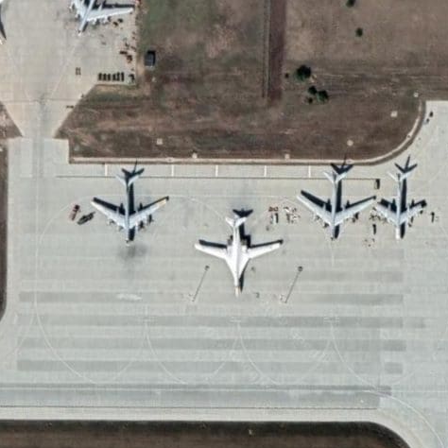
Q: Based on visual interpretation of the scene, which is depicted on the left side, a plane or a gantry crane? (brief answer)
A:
plane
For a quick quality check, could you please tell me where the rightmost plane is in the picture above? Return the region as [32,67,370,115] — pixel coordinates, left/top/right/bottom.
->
[376,165,420,238]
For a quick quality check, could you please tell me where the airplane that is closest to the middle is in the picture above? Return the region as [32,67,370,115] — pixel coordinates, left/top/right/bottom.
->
[196,213,278,295]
